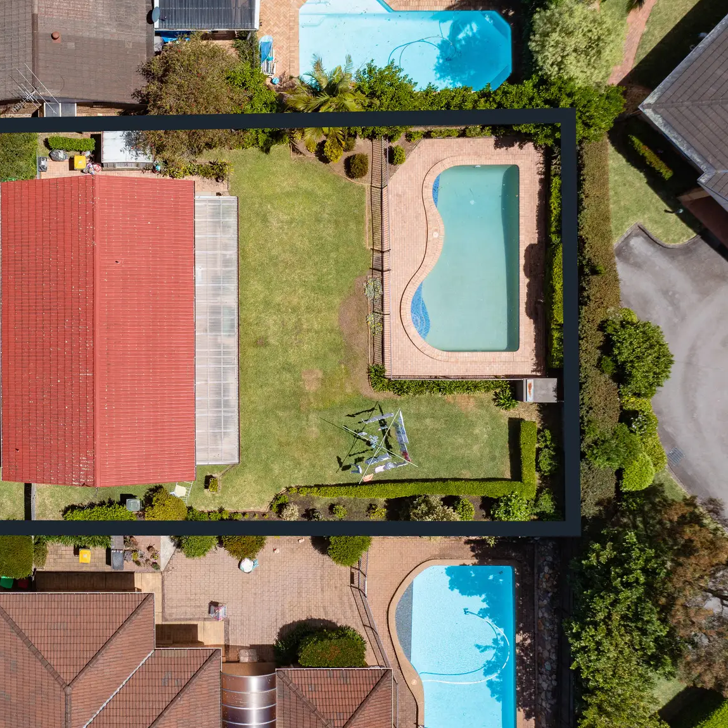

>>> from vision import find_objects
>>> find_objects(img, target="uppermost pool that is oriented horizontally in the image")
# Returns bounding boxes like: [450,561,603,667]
[289,0,521,100]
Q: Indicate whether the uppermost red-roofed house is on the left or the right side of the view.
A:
left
